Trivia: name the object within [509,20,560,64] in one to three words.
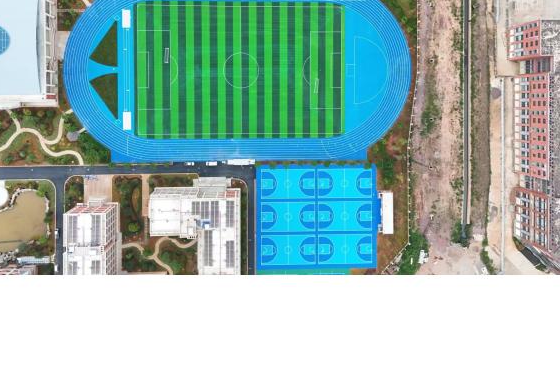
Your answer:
building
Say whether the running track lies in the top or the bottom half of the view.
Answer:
top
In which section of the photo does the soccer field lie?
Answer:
top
